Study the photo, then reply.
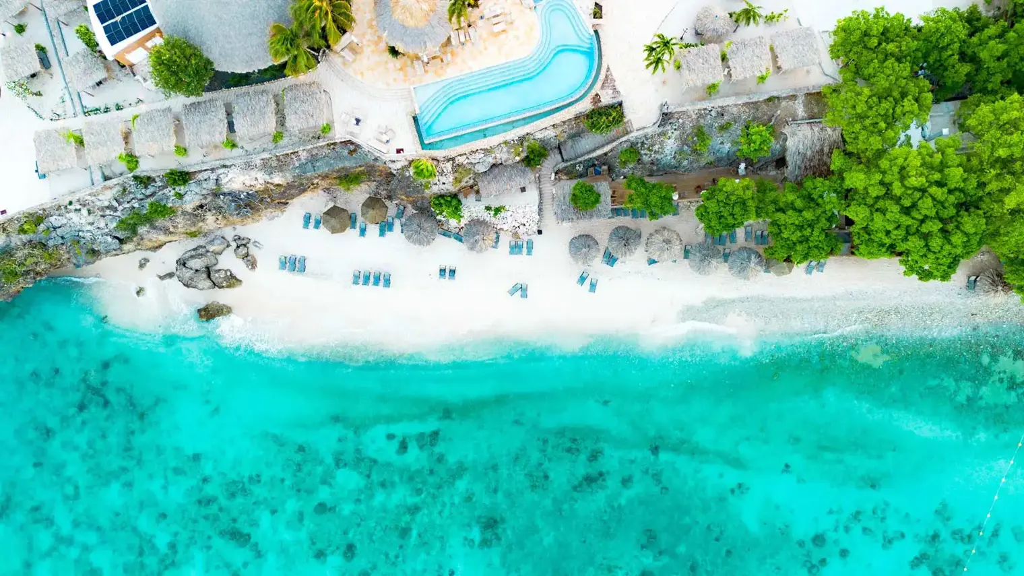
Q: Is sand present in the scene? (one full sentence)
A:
Yes, sand shows up in the scene.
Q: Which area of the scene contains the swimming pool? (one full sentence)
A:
The swimming pool sits in the top section of the image.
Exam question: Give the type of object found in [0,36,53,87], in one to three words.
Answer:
shed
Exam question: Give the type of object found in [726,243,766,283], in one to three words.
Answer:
umbrella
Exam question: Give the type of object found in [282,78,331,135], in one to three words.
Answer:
shed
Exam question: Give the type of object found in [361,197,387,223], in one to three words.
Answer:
umbrella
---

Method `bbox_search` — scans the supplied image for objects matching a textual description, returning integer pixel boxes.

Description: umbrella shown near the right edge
[974,264,1006,299]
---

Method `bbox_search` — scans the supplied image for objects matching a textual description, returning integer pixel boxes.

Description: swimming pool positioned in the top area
[406,0,609,162]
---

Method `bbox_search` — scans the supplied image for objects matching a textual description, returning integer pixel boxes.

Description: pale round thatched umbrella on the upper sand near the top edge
[692,1,736,44]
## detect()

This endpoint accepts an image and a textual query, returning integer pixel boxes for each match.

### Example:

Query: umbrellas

[643,223,683,265]
[726,243,766,283]
[604,222,644,260]
[974,264,1006,299]
[322,206,350,234]
[361,197,387,223]
[566,232,600,266]
[766,252,796,278]
[692,1,736,44]
[460,217,498,256]
[401,210,440,249]
[685,239,724,278]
